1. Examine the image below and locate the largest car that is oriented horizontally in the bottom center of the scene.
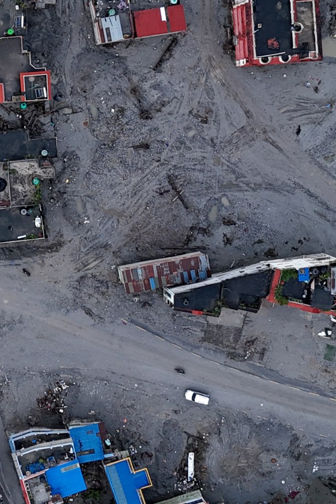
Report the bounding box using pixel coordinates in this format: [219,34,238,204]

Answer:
[185,390,213,407]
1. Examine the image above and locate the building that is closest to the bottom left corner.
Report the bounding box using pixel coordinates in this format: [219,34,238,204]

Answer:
[9,426,87,504]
